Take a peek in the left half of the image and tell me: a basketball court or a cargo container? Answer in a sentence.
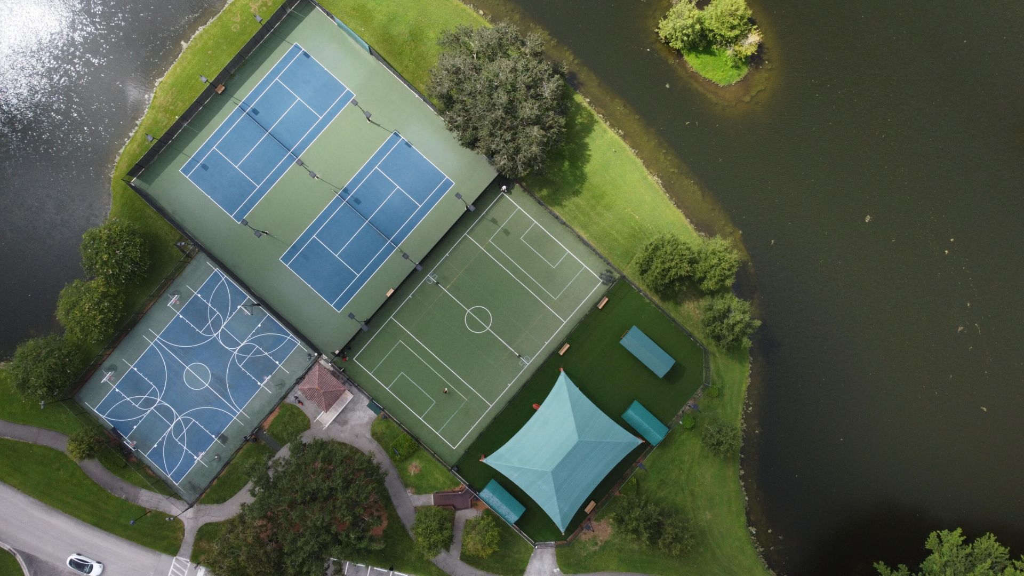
There is a basketball court in the left half of the image.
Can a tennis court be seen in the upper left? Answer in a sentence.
Yes, in the upper left there is a tennis court.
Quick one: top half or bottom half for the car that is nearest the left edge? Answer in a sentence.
Seen from above, the car that is nearest the left edge lies in the bottom half of the view.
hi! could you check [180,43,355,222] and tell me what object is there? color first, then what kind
blue tennis court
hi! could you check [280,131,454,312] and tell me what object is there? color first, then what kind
blue tennis court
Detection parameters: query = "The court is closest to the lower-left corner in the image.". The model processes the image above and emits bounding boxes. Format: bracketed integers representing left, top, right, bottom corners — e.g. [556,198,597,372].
[75,251,315,504]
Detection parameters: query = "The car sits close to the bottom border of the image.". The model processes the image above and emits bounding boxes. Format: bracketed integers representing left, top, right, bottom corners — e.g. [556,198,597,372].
[67,554,102,576]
